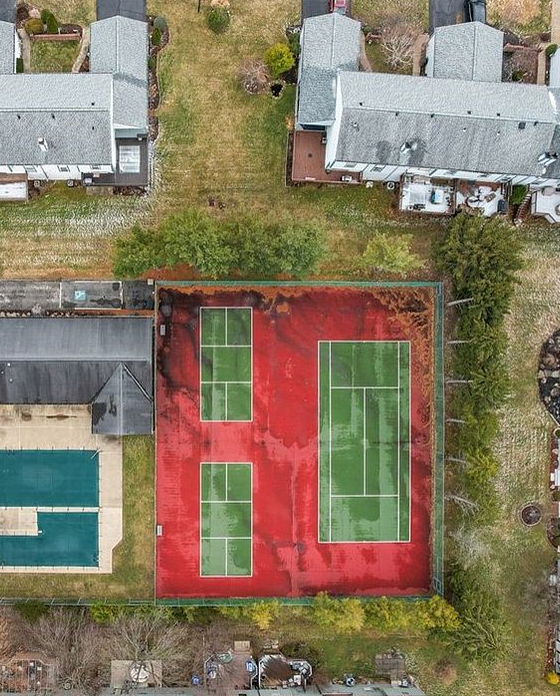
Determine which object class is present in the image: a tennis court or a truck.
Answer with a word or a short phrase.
tennis court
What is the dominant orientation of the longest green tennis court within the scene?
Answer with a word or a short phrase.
vertically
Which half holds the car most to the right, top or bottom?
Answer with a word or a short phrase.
top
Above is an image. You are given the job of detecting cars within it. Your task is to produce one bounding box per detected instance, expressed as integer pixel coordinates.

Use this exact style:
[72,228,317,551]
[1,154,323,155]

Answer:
[463,0,487,23]
[328,0,348,16]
